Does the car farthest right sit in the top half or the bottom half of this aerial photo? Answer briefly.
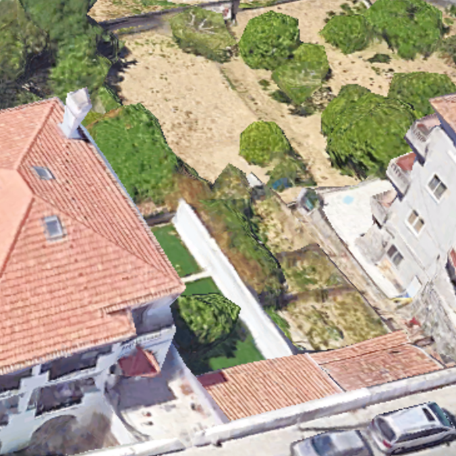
bottom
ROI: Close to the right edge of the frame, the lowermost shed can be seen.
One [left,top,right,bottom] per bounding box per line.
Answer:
[318,331,446,399]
